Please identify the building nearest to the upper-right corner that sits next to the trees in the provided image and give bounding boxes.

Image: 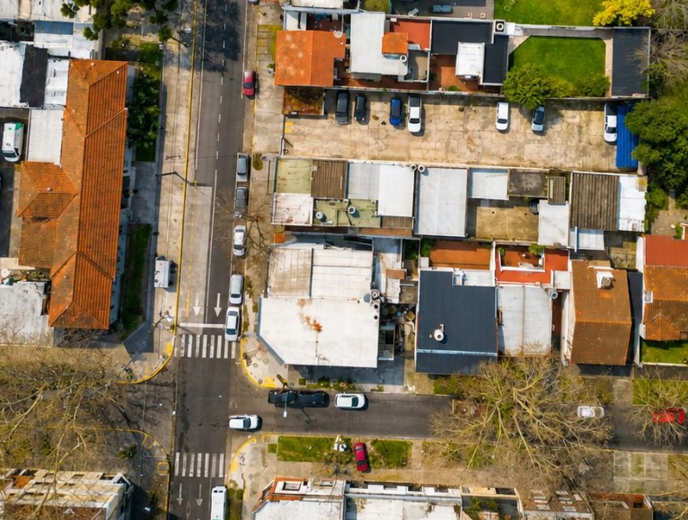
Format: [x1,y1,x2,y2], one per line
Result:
[608,27,649,97]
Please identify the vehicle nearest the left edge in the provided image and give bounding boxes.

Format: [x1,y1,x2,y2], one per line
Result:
[1,122,22,161]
